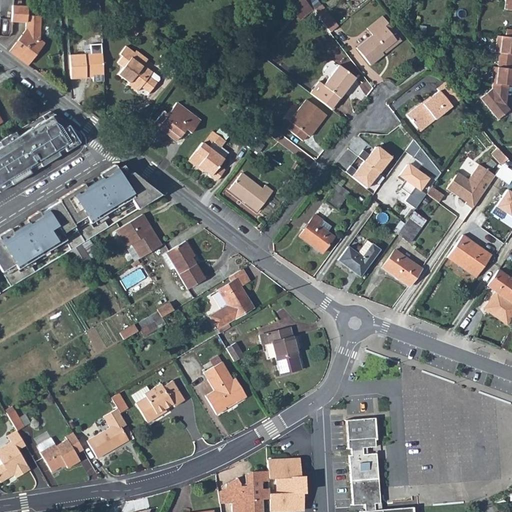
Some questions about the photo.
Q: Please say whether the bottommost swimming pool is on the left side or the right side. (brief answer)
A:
left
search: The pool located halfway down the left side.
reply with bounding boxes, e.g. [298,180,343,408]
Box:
[120,266,148,290]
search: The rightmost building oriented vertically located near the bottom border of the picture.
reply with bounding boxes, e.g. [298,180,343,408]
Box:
[342,418,384,505]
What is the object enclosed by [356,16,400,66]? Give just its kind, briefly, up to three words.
house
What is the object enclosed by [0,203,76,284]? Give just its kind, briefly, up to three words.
building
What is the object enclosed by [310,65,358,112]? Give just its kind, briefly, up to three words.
house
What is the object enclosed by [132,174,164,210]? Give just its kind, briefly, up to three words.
building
